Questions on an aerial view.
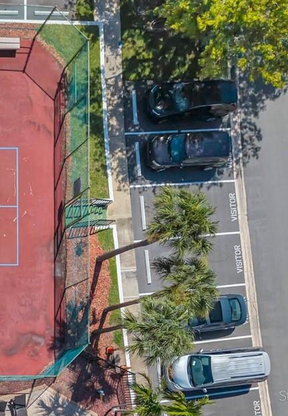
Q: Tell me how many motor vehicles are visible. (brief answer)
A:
4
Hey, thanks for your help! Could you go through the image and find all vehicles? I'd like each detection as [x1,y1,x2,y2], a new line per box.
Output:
[139,72,238,124]
[163,349,271,393]
[139,126,234,174]
[186,292,260,337]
